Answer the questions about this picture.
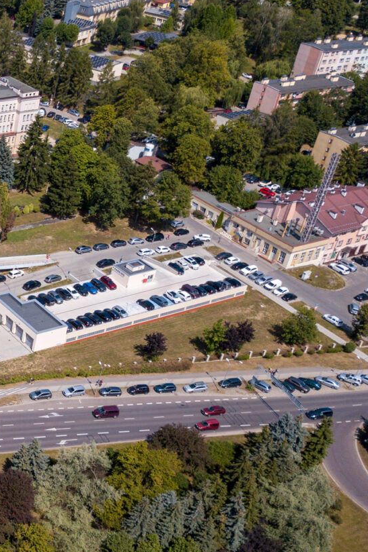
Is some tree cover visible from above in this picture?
Yes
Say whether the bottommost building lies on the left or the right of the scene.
left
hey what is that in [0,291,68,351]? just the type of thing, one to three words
building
